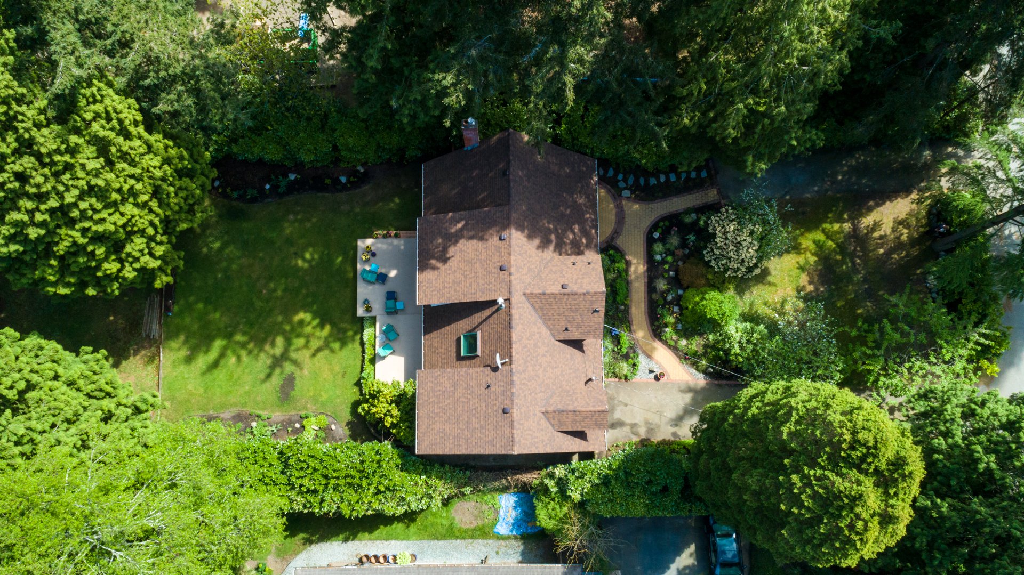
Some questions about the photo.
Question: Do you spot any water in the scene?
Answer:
No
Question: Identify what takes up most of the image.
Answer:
trees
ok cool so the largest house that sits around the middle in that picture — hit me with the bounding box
[413,113,608,454]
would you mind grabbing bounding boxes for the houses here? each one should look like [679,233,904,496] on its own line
[413,113,608,454]
[294,562,582,575]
